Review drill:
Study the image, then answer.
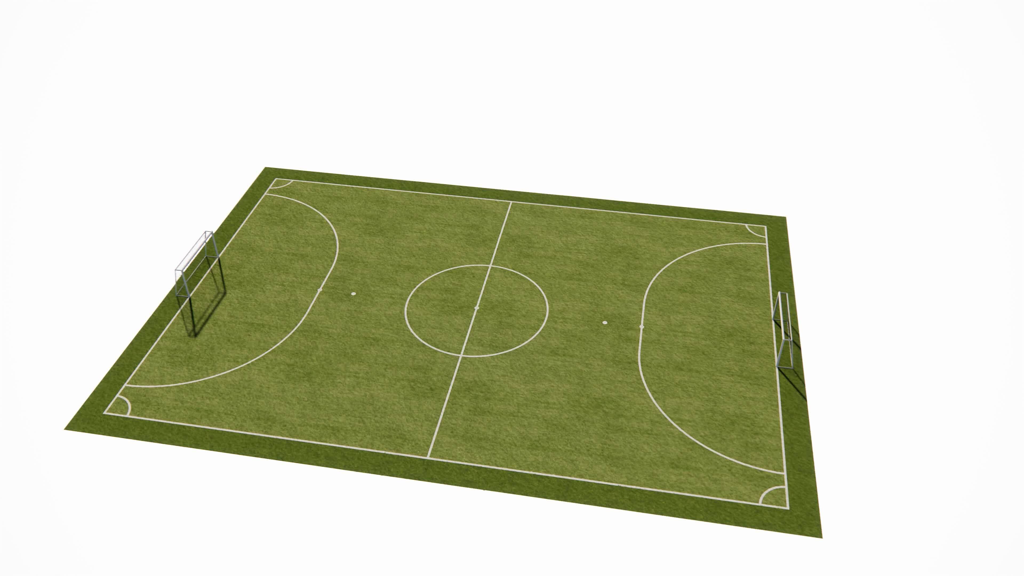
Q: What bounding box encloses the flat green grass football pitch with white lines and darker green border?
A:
[64,167,823,539]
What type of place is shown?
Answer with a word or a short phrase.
sports ground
